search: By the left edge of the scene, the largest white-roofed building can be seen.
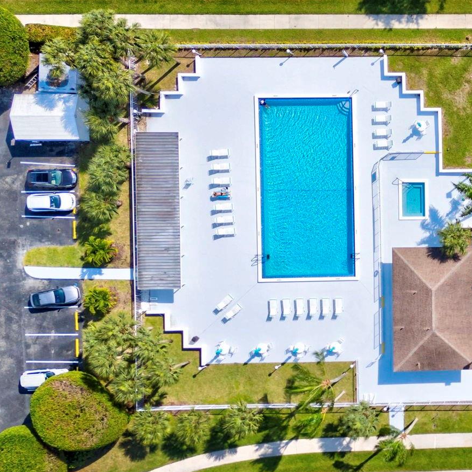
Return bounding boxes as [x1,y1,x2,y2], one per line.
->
[9,94,94,143]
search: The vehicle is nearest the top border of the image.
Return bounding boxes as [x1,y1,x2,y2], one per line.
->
[29,168,80,190]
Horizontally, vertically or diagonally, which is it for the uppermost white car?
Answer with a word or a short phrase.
horizontally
